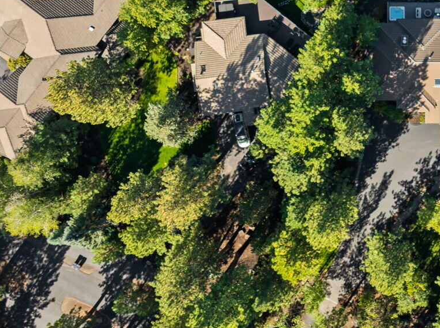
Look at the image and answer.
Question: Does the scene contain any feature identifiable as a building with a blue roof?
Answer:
No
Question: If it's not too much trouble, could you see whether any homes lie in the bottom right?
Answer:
No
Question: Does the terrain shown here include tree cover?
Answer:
Yes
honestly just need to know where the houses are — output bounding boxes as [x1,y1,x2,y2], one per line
[190,16,301,126]
[0,0,124,159]
[374,19,440,124]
